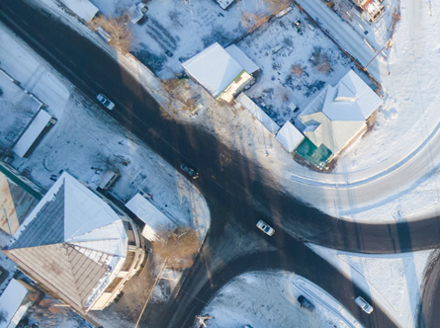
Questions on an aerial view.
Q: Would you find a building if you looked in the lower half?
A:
Yes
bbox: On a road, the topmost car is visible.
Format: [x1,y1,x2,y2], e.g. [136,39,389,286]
[94,93,112,108]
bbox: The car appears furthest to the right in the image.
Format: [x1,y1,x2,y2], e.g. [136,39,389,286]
[354,297,372,313]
